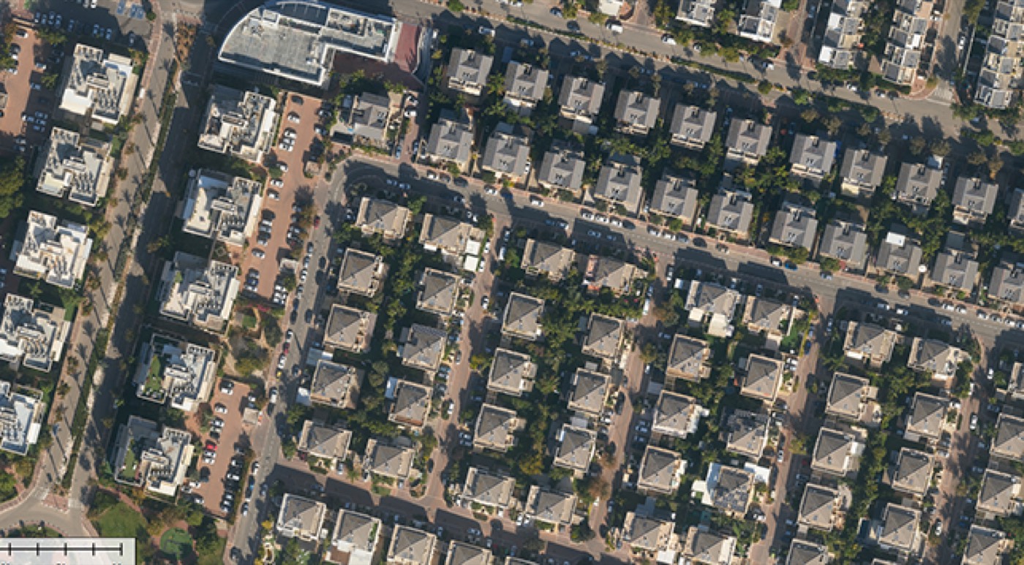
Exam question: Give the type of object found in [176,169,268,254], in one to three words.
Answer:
building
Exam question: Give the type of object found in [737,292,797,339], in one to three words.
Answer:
house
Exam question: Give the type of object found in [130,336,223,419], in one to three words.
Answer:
building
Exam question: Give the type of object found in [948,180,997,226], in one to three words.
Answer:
house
